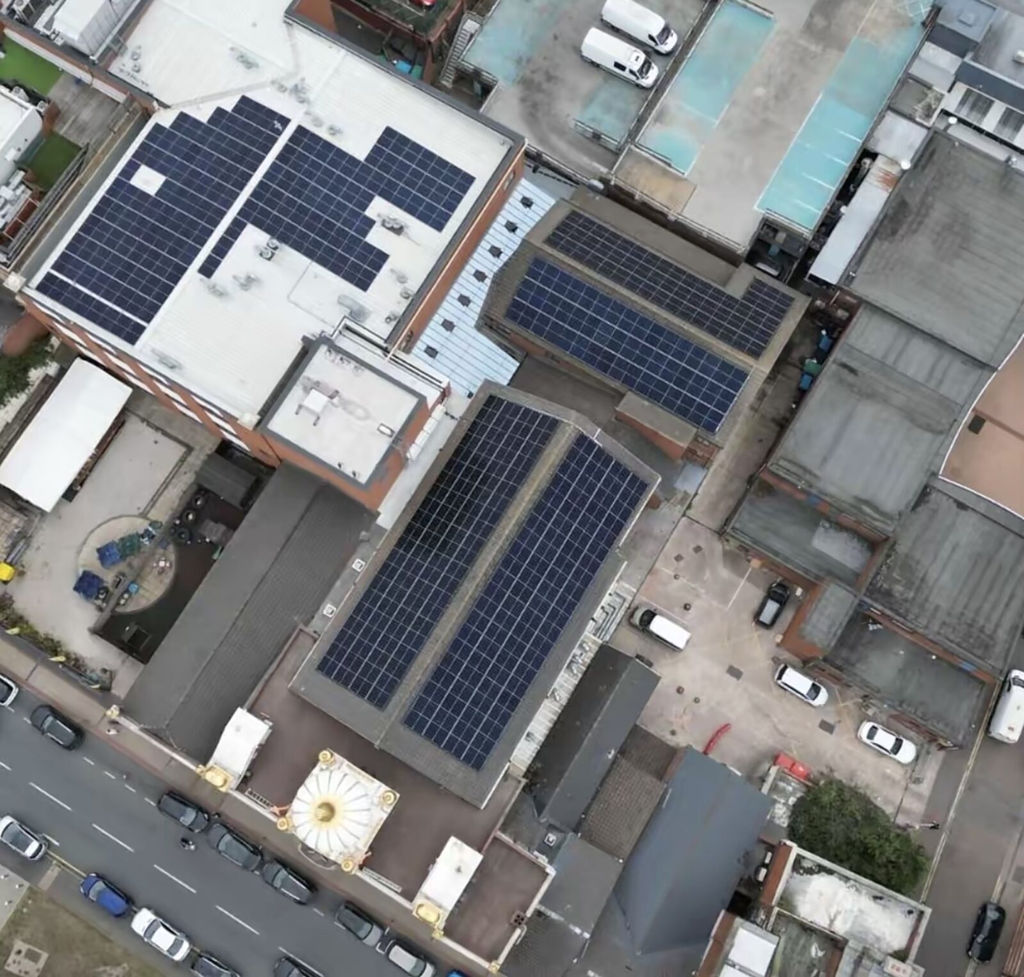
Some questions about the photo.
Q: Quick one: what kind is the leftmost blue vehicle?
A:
automobile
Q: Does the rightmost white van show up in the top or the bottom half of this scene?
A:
bottom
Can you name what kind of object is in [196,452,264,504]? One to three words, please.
shed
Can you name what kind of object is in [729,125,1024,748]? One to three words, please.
building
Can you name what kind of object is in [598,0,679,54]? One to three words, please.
van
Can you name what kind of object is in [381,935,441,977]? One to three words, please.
car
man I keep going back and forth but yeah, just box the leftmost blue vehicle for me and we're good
[77,872,136,922]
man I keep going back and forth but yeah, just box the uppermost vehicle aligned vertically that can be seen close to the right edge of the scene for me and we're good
[990,670,1024,741]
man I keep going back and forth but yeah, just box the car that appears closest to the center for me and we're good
[628,607,694,651]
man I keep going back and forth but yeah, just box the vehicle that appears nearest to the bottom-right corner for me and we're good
[963,900,1004,964]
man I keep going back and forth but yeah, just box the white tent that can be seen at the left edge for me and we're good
[0,357,142,521]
